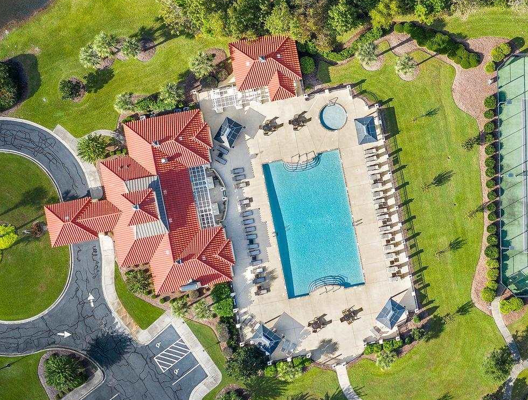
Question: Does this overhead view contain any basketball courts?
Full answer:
No, no basketball court can be seen from above.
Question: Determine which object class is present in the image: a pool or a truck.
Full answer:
Of the two, only a pool appears.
